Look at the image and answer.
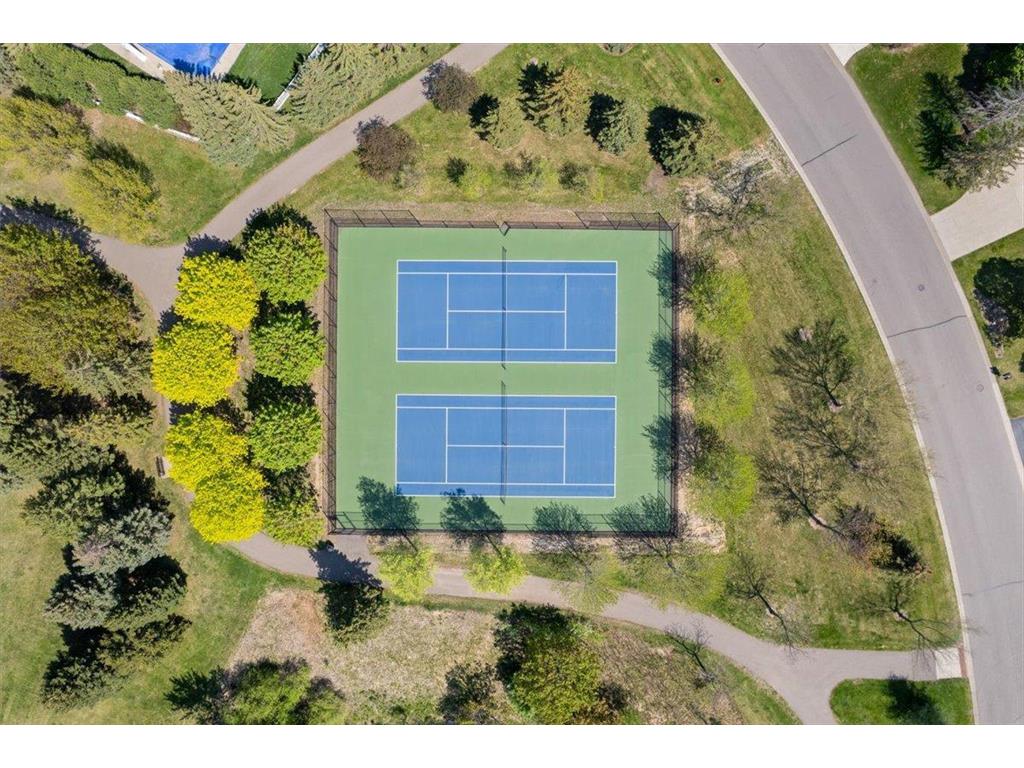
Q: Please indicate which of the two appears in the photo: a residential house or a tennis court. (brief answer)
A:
tennis court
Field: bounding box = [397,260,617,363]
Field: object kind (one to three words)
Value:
tennis court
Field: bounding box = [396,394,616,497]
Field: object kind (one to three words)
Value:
tennis court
